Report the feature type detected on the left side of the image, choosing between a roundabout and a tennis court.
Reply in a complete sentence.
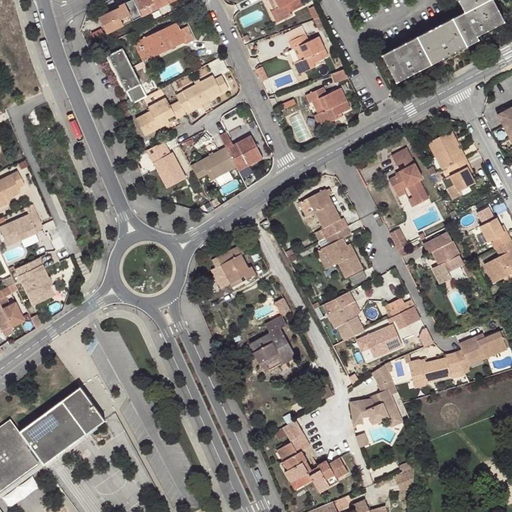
What appears on the left side of the image is a roundabout.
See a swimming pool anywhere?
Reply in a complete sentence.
Yes, the image includes a swimming pool.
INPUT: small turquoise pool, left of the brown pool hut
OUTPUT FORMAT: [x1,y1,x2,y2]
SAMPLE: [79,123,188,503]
[254,303,276,320]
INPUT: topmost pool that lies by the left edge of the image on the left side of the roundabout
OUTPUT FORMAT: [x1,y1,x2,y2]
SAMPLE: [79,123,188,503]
[4,246,25,263]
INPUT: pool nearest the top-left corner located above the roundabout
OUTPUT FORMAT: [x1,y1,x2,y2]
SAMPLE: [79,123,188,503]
[160,60,184,83]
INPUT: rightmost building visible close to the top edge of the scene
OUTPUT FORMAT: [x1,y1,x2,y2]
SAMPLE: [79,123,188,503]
[384,0,506,84]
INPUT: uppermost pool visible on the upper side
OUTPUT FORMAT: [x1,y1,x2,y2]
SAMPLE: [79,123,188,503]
[238,8,265,28]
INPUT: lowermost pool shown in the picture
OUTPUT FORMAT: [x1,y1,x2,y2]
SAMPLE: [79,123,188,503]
[368,425,397,444]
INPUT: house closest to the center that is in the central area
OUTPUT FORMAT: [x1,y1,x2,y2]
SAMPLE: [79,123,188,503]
[212,247,256,290]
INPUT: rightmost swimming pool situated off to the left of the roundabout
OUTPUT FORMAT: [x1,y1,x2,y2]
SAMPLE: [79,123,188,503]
[48,301,64,315]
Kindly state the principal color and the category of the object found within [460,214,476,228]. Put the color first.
blue swimming pool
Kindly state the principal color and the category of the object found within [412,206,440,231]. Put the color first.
blue swimming pool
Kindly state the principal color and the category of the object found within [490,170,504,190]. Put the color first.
white vehicle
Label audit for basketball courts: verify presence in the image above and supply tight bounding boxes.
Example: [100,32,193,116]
[95,471,147,512]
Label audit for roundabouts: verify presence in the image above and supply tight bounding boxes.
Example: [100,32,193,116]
[108,230,188,310]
